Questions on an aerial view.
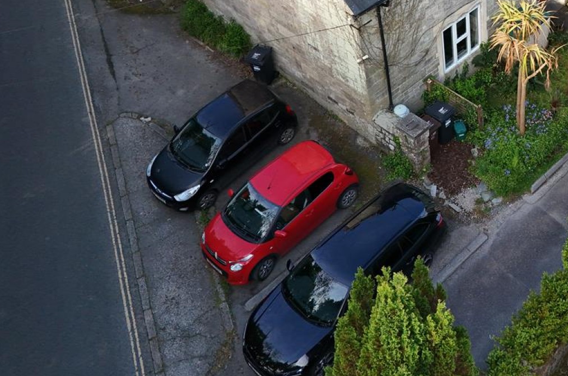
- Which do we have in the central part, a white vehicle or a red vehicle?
red vehicle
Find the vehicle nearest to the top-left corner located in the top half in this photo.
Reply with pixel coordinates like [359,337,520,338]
[141,71,296,209]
